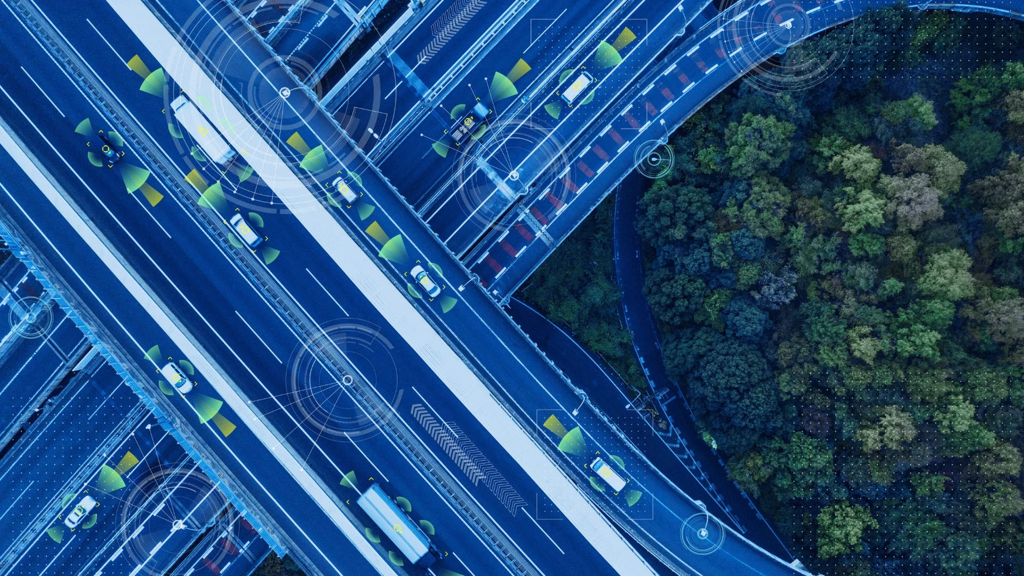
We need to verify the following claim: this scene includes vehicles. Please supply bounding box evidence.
[561,73,593,105]
[160,360,195,394]
[332,176,359,204]
[446,100,490,146]
[93,134,123,163]
[357,480,445,576]
[230,213,263,248]
[64,495,98,529]
[590,456,627,493]
[169,93,244,170]
[410,265,442,298]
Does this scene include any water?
No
